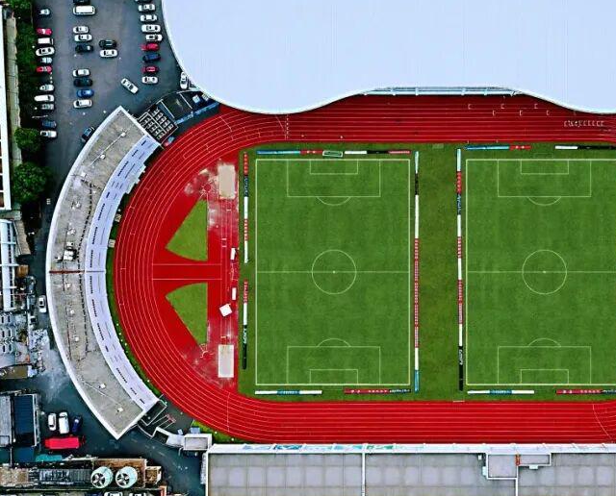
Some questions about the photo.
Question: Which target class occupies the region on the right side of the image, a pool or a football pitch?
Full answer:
You can see a football pitch on the right side of the image.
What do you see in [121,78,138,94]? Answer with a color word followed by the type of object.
white car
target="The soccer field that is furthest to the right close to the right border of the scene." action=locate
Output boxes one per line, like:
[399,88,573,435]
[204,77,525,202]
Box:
[464,157,616,388]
